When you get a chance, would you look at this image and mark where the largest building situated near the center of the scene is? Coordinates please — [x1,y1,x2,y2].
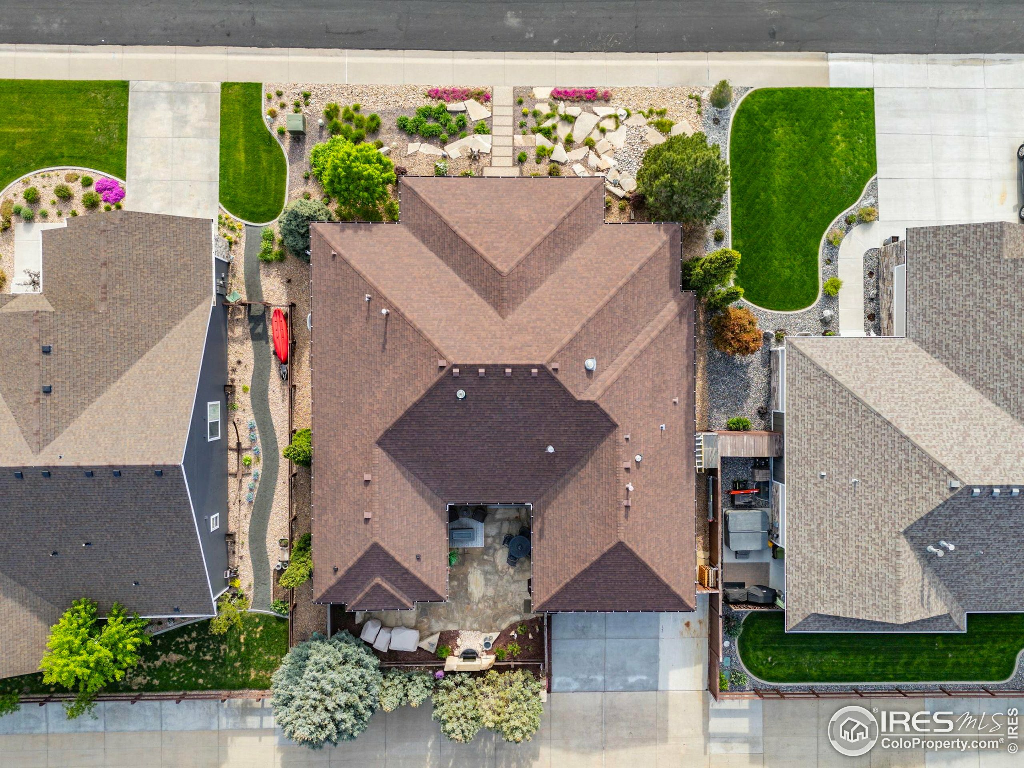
[305,173,699,615]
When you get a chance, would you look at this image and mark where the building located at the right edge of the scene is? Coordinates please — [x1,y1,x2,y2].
[769,221,1024,635]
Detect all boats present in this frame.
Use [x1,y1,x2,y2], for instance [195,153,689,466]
[272,309,288,363]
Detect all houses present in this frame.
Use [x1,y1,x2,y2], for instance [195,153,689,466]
[305,173,699,615]
[0,211,241,675]
[769,221,1024,635]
